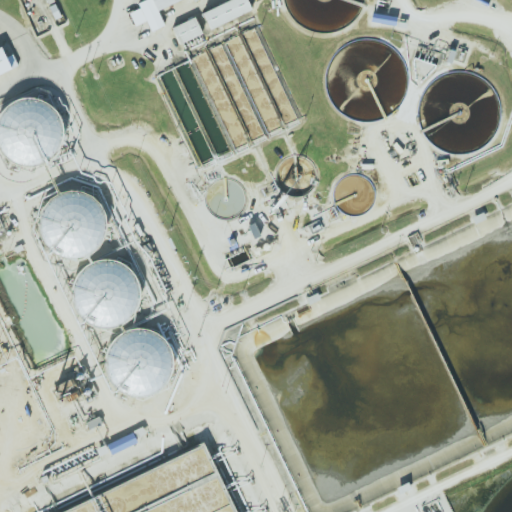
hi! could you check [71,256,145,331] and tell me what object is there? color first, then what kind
white storage tank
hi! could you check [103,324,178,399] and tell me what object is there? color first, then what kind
white storage tank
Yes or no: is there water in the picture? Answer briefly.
Yes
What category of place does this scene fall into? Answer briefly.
industrial area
